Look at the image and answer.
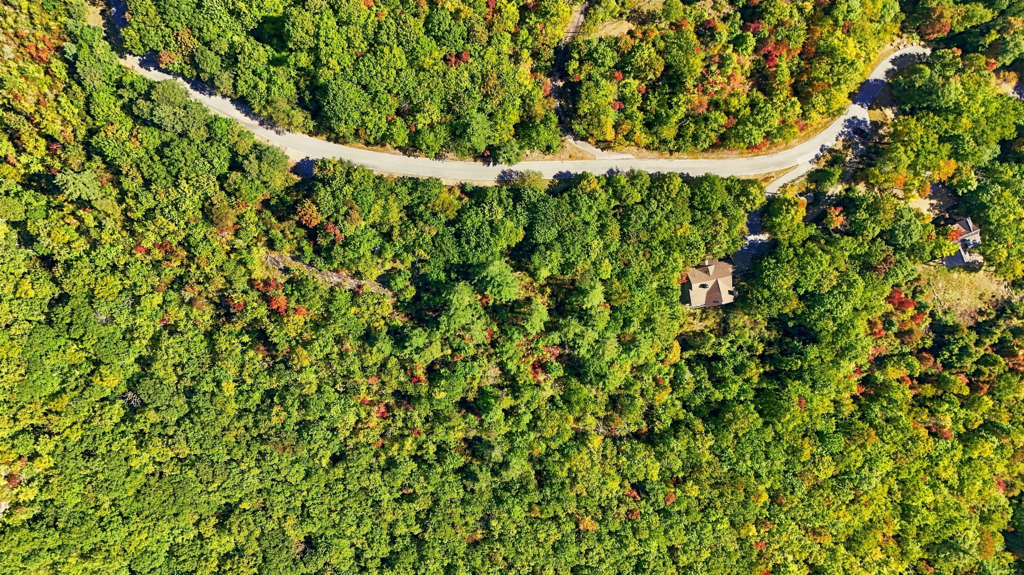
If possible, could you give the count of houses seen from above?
two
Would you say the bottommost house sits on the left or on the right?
right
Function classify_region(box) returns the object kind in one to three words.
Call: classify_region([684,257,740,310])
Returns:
house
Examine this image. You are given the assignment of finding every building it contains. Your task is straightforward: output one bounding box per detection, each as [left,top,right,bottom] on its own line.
[684,257,740,310]
[940,216,980,272]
